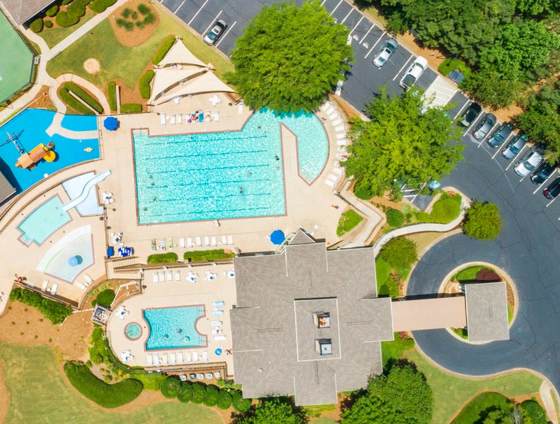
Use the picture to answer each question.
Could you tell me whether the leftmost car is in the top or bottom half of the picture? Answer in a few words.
top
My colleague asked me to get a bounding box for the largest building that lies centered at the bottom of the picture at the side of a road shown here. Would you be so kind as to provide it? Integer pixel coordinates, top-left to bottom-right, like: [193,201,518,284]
[228,228,396,407]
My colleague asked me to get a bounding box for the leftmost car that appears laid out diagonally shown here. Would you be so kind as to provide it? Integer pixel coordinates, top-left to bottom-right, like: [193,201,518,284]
[203,18,229,46]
